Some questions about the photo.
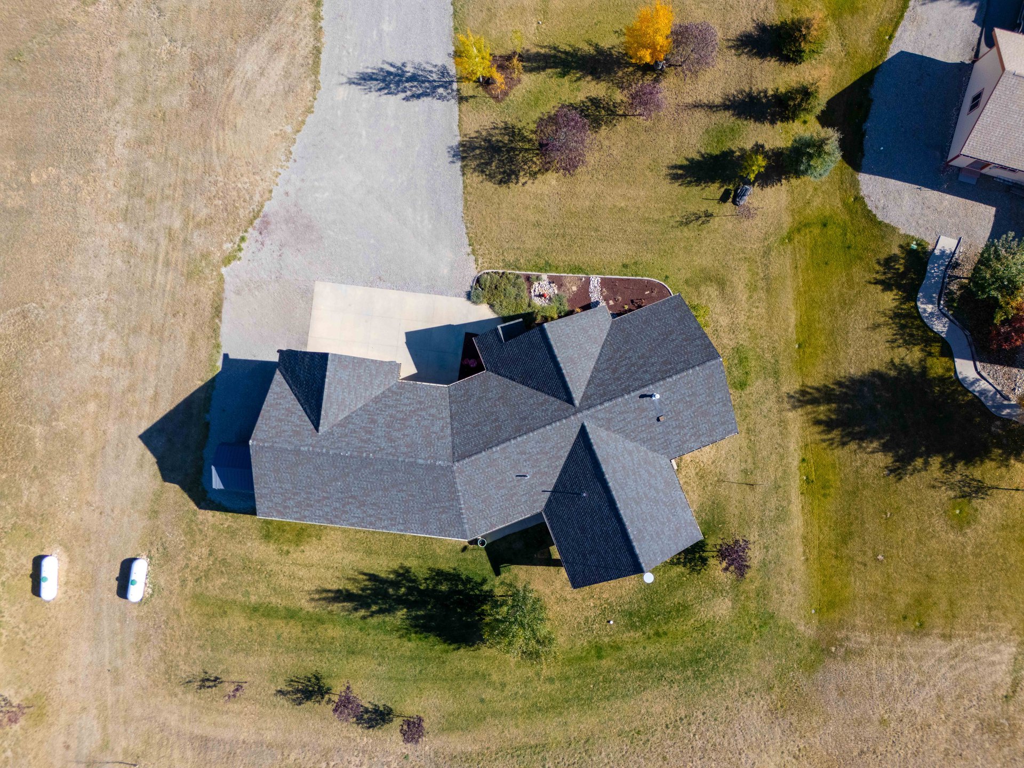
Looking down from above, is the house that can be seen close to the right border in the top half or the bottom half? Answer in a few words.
top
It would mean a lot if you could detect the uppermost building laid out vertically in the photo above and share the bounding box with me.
[945,28,1024,194]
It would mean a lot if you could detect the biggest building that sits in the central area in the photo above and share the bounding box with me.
[250,291,737,590]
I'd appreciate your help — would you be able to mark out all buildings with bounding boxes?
[945,28,1024,194]
[250,291,737,590]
